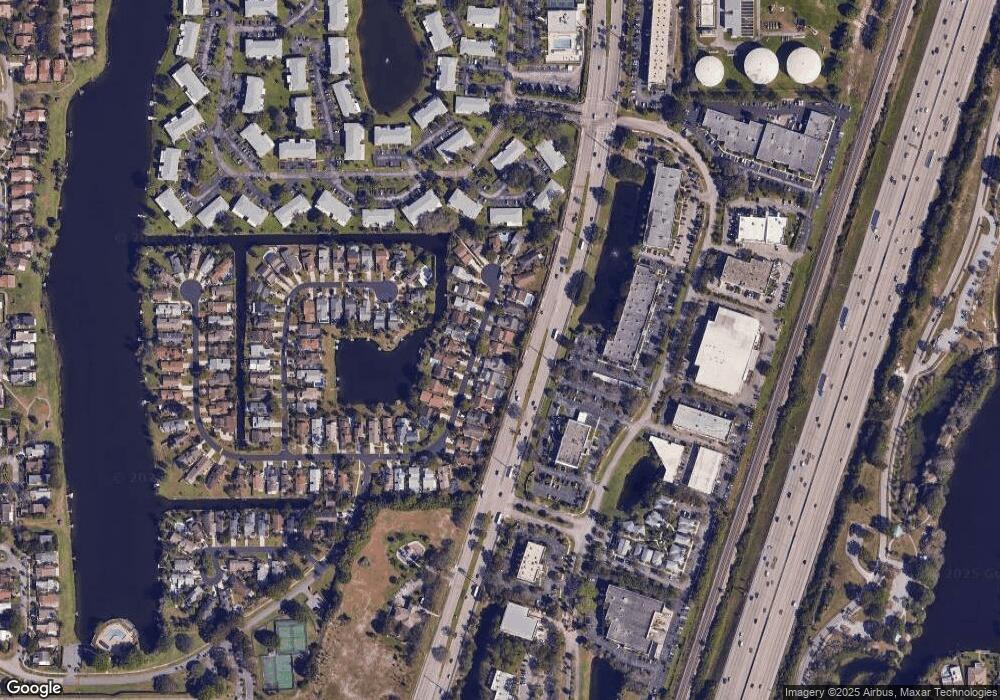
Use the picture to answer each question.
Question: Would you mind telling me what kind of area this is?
residential area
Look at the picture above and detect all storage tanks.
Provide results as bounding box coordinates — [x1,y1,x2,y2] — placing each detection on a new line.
[743,46,780,83]
[695,56,726,86]
[786,46,823,83]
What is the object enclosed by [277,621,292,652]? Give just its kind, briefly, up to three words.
tennis court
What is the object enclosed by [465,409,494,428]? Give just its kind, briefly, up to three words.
house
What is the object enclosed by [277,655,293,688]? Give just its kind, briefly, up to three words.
tennis court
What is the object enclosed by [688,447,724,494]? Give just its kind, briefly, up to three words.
building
